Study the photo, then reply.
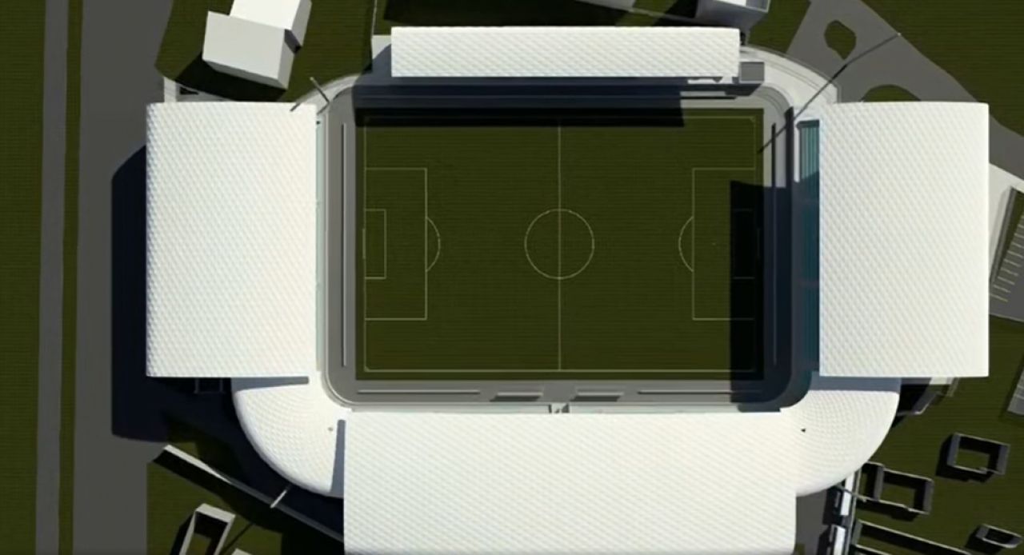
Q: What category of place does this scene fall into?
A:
sports ground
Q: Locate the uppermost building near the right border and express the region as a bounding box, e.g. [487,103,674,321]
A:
[947,434,1010,475]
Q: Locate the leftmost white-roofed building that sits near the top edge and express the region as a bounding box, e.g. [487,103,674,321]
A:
[202,0,317,89]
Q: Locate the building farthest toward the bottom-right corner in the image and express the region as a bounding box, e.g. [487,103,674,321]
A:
[974,524,1021,548]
